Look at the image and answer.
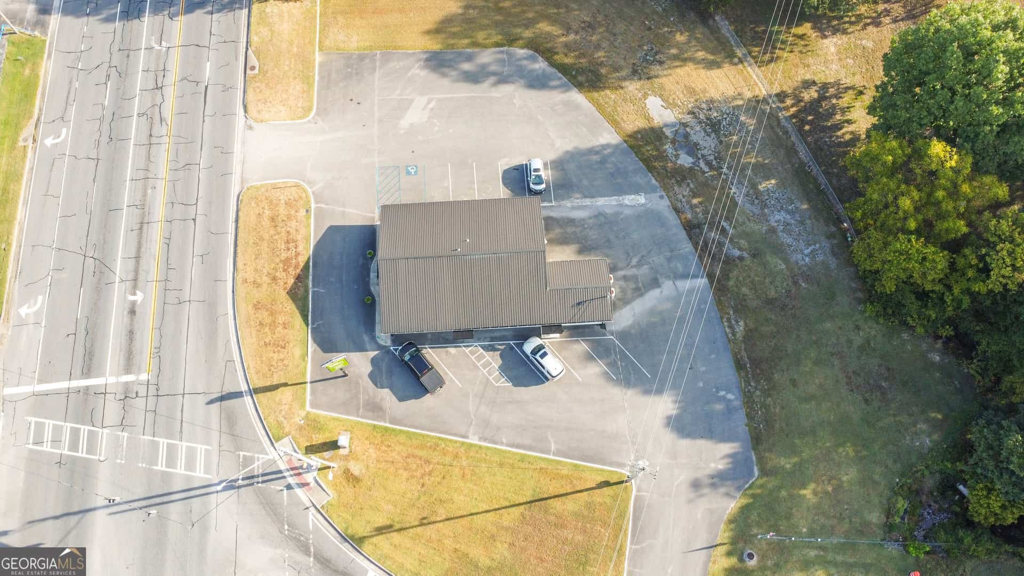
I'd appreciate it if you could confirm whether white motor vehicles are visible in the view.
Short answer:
Yes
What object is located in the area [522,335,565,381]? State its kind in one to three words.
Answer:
car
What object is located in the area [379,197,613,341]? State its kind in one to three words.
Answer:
building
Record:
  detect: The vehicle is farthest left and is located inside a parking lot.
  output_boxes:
[398,342,445,395]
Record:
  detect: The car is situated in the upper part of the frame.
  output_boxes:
[527,158,547,196]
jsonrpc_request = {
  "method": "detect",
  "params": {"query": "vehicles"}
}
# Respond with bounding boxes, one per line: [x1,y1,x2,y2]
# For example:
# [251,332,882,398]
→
[398,342,445,395]
[527,158,547,196]
[522,335,565,381]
